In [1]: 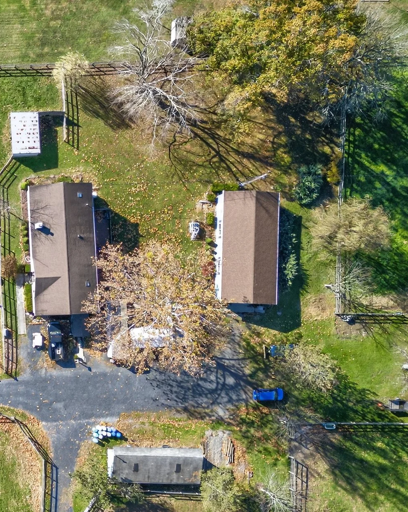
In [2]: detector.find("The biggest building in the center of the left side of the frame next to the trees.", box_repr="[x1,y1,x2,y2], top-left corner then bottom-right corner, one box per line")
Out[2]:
[18,182,108,316]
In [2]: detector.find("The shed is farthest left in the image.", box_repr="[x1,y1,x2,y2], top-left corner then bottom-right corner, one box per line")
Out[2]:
[9,111,40,156]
